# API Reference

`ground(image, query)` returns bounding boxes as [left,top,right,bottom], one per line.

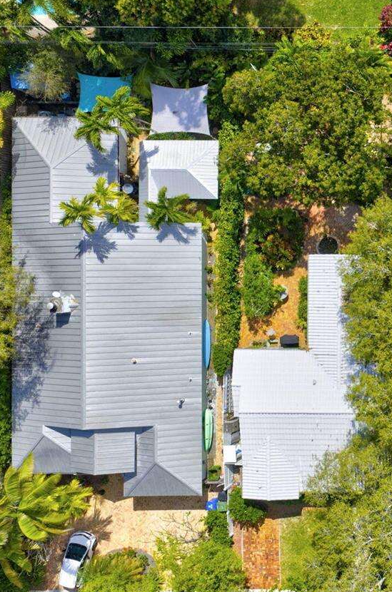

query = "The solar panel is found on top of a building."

[55,311,69,328]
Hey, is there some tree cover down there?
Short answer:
Yes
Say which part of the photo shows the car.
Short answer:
bottom left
